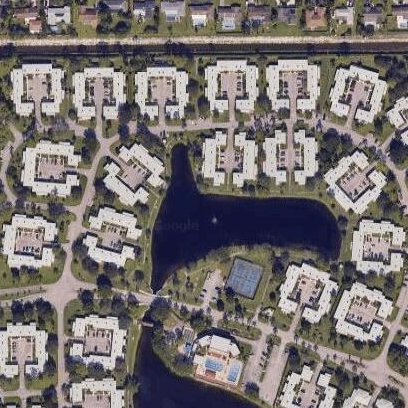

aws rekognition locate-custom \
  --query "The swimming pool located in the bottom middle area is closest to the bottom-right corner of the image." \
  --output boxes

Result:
[227,361,240,382]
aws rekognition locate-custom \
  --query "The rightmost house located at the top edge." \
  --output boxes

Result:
[392,6,408,28]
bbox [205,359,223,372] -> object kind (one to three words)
swimming pool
